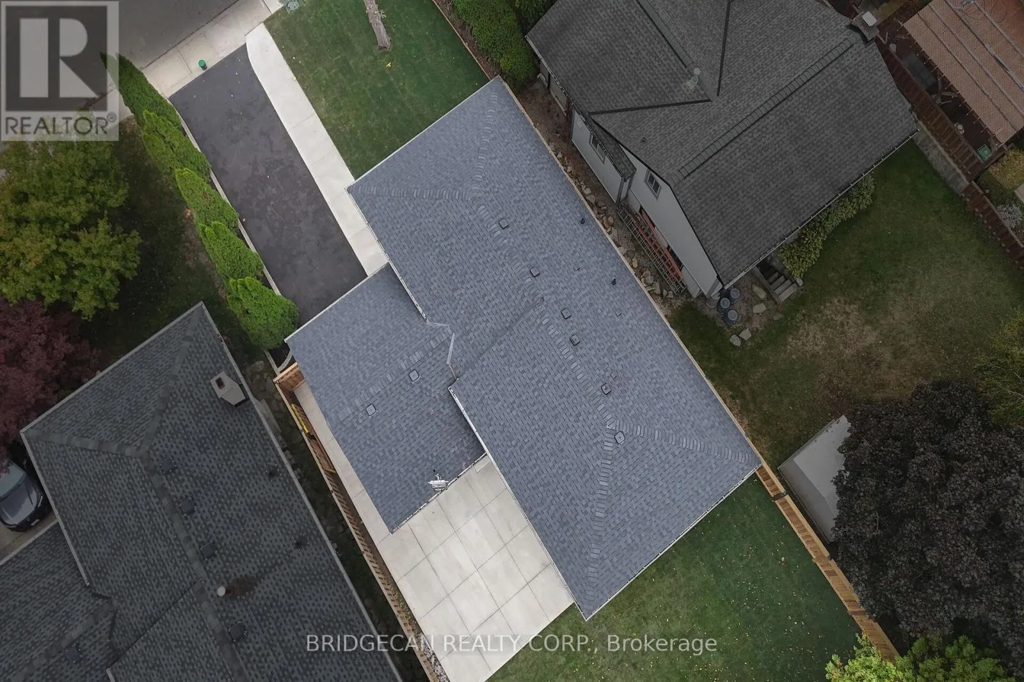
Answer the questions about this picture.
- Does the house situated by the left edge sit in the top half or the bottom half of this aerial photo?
bottom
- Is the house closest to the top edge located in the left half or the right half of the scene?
right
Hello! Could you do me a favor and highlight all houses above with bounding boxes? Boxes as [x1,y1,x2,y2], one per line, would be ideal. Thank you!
[524,0,920,299]
[0,301,403,682]
[285,75,762,622]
